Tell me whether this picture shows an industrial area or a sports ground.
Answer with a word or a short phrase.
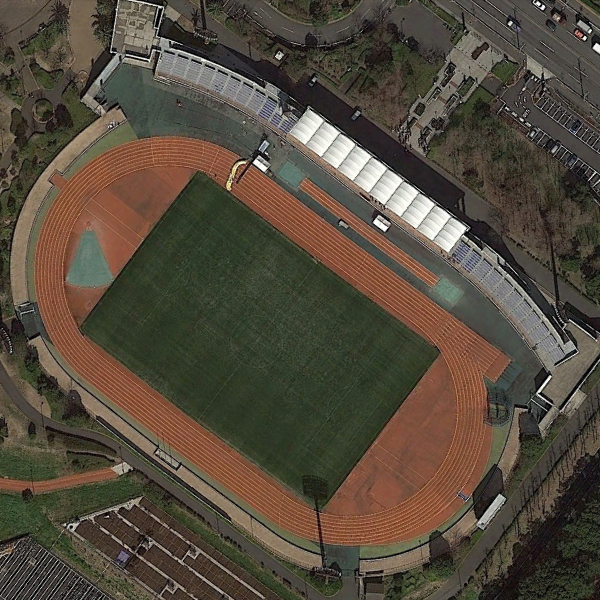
sports ground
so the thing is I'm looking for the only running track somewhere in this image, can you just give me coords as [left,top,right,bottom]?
[35,137,510,545]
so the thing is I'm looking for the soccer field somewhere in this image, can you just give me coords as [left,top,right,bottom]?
[82,172,440,505]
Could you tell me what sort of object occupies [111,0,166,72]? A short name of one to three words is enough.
building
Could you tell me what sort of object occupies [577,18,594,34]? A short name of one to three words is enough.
vehicle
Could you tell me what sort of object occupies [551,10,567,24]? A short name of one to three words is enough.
vehicle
